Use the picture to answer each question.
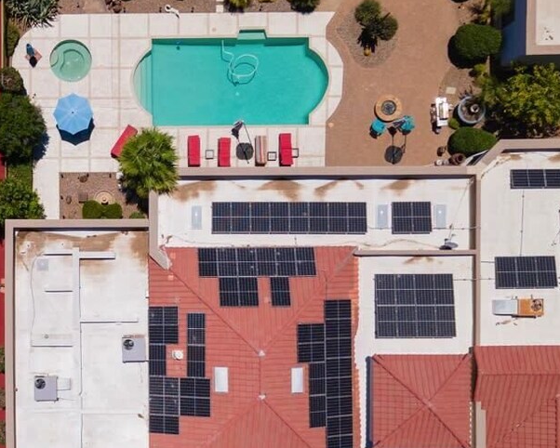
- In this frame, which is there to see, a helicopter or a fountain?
fountain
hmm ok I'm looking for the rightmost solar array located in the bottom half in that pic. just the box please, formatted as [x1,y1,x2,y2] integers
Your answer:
[494,257,558,288]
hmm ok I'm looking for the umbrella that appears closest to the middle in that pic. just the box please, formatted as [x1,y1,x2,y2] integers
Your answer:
[232,120,254,160]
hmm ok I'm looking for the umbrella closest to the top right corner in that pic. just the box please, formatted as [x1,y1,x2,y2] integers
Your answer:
[385,118,409,164]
